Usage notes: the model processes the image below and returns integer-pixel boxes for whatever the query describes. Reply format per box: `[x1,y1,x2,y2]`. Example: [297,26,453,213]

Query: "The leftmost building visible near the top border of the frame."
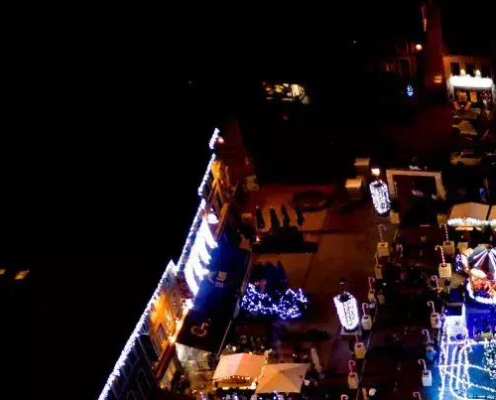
[228,15,338,112]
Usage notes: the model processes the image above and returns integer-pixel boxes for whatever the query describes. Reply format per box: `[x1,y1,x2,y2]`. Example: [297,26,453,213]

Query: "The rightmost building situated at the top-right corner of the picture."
[439,14,496,106]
